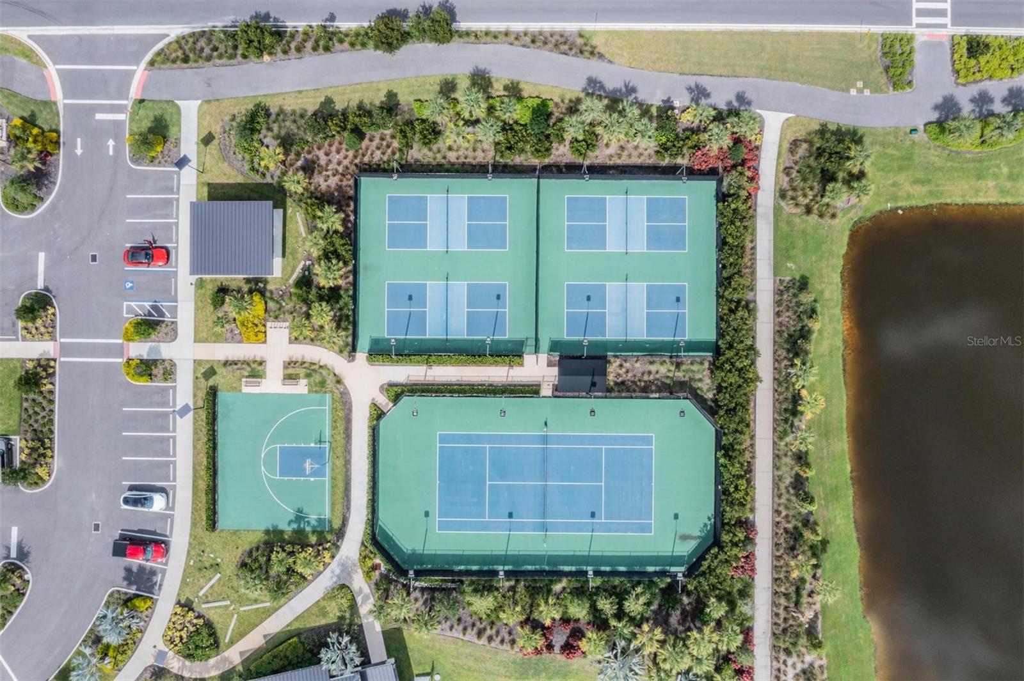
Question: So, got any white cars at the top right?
No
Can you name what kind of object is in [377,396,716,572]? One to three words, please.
tennis court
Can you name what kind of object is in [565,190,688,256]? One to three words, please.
sports court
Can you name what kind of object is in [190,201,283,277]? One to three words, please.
building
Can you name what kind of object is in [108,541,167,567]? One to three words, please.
truck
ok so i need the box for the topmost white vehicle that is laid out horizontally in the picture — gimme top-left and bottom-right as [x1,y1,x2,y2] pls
[120,494,167,516]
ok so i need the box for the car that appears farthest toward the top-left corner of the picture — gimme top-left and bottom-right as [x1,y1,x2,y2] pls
[122,240,169,268]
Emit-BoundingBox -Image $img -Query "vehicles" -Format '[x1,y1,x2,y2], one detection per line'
[120,494,167,516]
[122,240,169,268]
[0,442,12,488]
[108,541,167,567]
